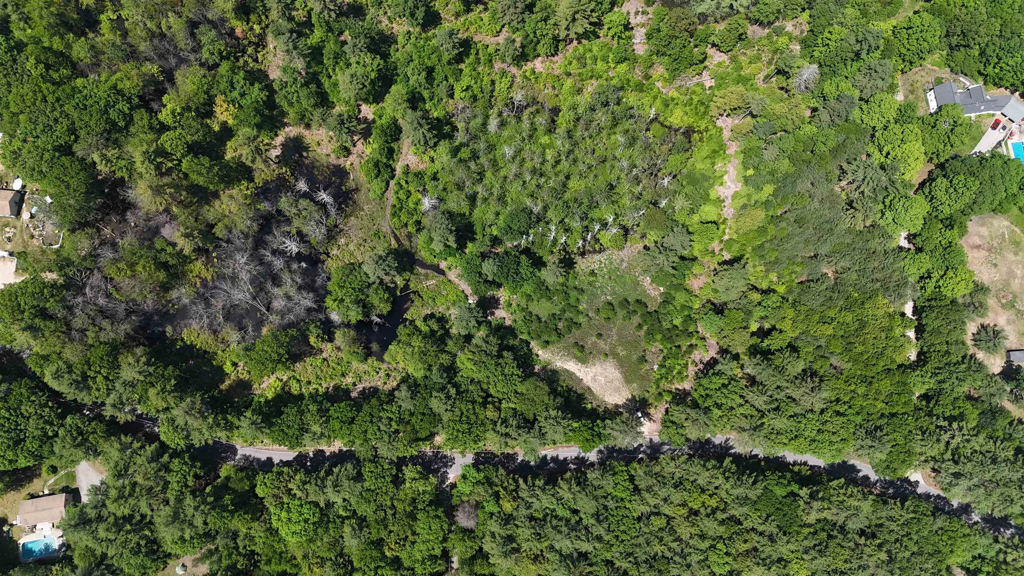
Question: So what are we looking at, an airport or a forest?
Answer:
forest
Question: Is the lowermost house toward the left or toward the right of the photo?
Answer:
left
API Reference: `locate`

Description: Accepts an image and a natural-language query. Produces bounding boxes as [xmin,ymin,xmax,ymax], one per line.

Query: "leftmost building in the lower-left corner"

[16,490,75,525]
